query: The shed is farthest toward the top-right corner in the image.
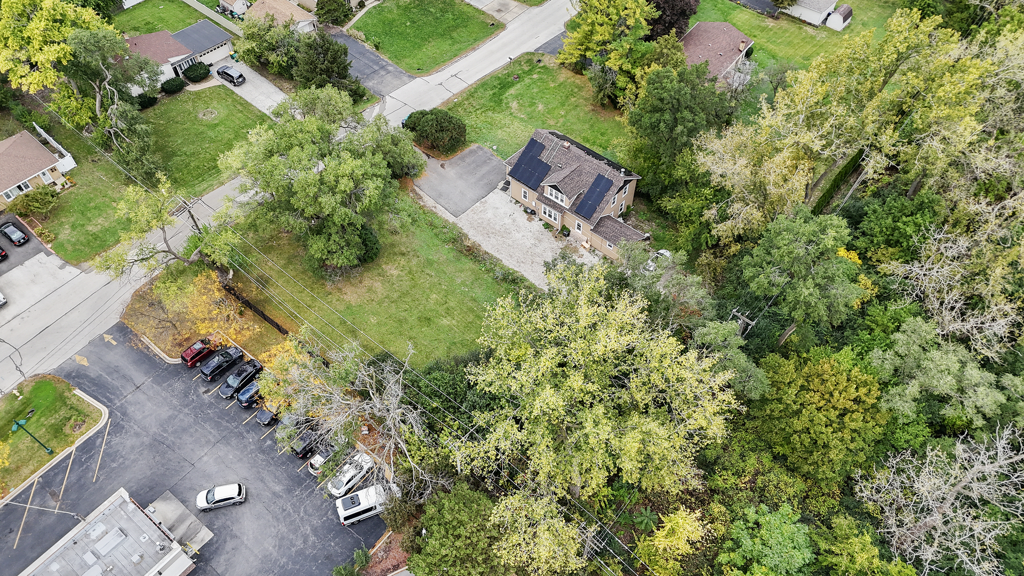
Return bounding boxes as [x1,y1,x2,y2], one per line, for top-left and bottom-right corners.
[826,1,854,30]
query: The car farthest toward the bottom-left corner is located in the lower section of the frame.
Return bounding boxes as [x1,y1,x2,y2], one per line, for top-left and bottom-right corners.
[194,483,248,513]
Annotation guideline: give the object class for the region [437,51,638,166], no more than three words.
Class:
house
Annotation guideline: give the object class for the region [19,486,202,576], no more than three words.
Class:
building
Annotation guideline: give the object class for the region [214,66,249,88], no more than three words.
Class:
car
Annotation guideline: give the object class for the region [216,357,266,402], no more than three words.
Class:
car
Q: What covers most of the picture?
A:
trees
